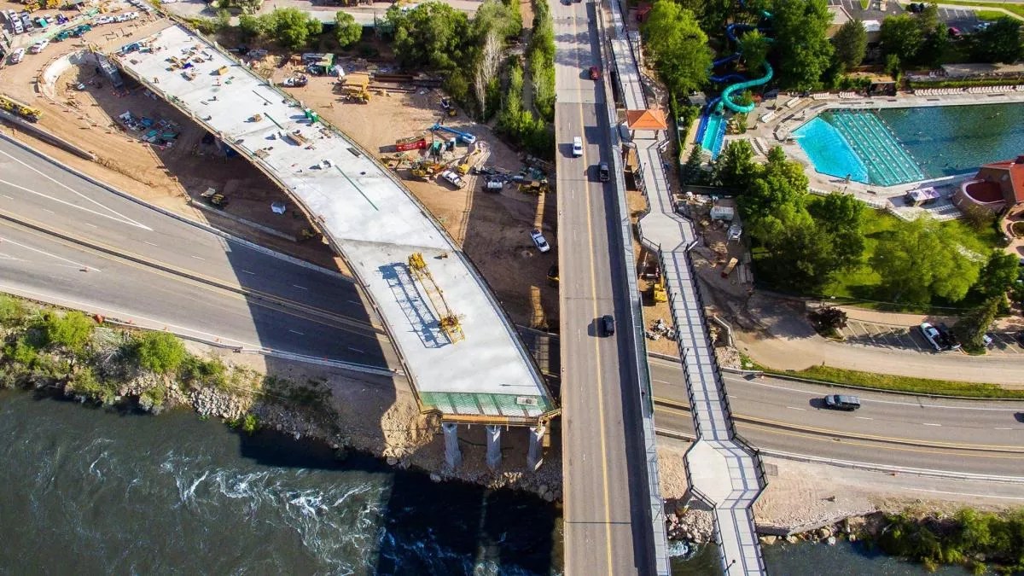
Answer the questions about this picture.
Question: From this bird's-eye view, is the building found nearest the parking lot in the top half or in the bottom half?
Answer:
top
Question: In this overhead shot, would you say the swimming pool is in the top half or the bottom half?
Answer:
top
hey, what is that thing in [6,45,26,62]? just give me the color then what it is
white vehicle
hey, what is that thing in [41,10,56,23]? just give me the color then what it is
white vehicle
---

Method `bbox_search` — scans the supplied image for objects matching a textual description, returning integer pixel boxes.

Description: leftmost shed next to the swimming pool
[866,81,898,102]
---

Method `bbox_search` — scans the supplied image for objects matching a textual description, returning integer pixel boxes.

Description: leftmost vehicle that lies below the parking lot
[826,393,864,410]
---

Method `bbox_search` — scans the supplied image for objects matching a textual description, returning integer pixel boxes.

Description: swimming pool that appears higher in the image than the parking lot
[791,101,1024,187]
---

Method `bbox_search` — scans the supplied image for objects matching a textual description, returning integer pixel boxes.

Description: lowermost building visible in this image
[959,135,1024,221]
